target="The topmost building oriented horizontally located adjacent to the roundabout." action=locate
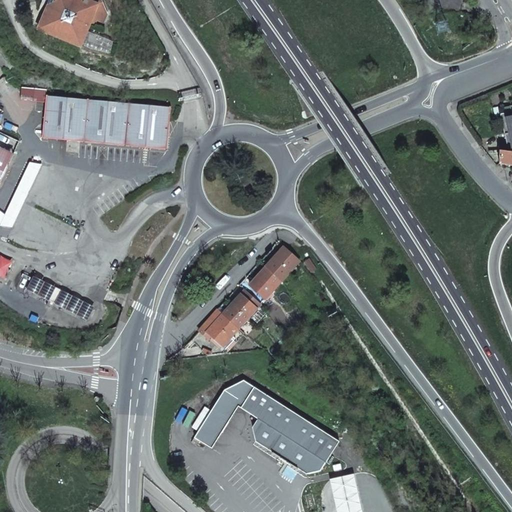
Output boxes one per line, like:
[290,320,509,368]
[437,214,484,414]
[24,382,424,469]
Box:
[40,95,170,153]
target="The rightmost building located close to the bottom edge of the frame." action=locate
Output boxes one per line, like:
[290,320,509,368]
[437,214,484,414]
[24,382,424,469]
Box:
[328,474,364,512]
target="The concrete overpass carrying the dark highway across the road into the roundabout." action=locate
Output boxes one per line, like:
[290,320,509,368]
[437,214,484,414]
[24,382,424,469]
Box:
[291,62,392,190]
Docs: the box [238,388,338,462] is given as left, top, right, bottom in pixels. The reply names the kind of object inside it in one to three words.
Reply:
building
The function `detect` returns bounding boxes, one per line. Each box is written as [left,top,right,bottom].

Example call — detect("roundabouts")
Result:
[183,123,297,234]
